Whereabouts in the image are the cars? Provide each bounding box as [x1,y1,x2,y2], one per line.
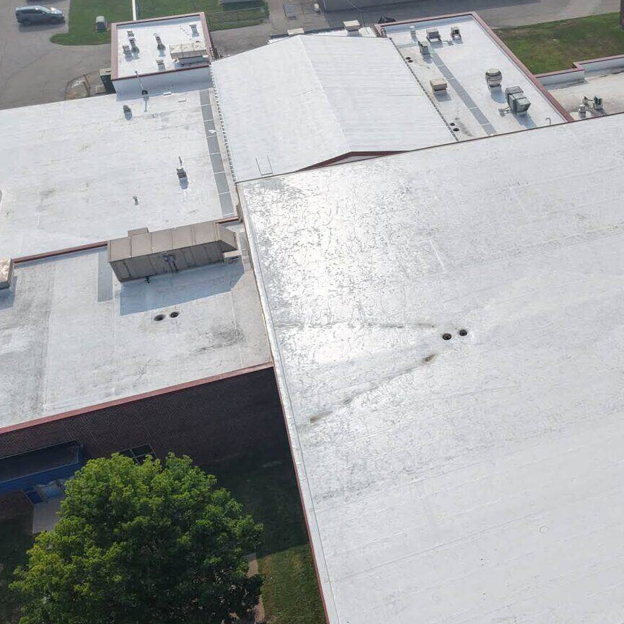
[8,1,64,25]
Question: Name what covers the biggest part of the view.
buildings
